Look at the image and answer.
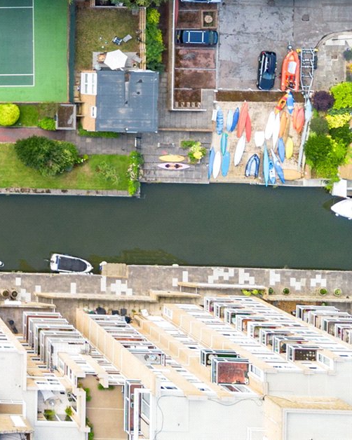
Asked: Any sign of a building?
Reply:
Yes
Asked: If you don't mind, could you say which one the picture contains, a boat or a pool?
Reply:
boat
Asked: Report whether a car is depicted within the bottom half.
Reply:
No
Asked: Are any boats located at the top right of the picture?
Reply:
Yes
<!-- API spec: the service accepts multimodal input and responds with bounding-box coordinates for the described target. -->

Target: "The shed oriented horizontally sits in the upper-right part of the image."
[214,91,316,103]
